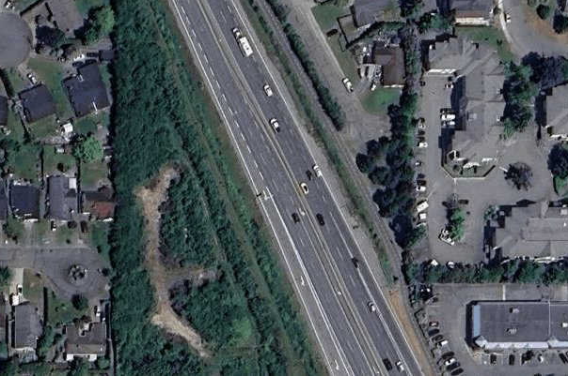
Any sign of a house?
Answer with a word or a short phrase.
Yes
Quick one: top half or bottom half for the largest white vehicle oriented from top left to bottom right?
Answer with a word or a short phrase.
top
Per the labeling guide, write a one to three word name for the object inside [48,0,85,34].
house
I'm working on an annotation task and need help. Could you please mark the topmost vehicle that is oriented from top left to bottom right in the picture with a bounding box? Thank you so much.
[235,32,255,56]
